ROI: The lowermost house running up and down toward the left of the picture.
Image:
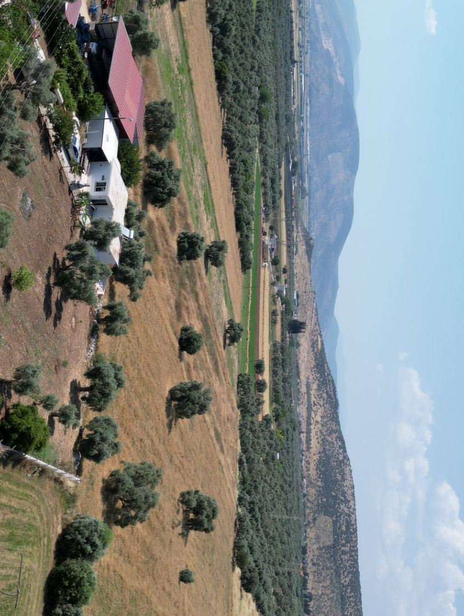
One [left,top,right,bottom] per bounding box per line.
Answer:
[88,155,128,267]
